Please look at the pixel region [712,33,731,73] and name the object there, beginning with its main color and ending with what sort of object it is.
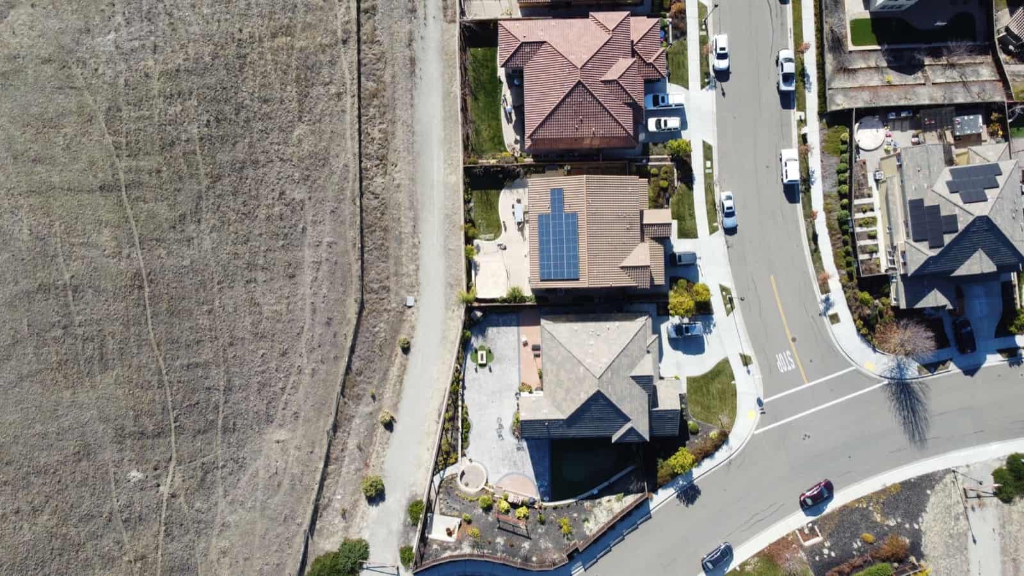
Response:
white car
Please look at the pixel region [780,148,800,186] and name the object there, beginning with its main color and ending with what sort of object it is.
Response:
white car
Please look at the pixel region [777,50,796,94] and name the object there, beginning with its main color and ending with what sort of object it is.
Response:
white vehicle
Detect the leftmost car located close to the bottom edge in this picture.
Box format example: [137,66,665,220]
[699,541,734,574]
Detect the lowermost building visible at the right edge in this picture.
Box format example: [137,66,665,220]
[877,142,1024,309]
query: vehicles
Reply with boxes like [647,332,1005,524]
[712,33,731,73]
[797,479,832,508]
[646,115,681,133]
[780,148,800,186]
[665,249,699,266]
[699,541,734,574]
[666,321,704,339]
[645,91,685,109]
[777,50,796,94]
[719,191,738,230]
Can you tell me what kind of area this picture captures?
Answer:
residential area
